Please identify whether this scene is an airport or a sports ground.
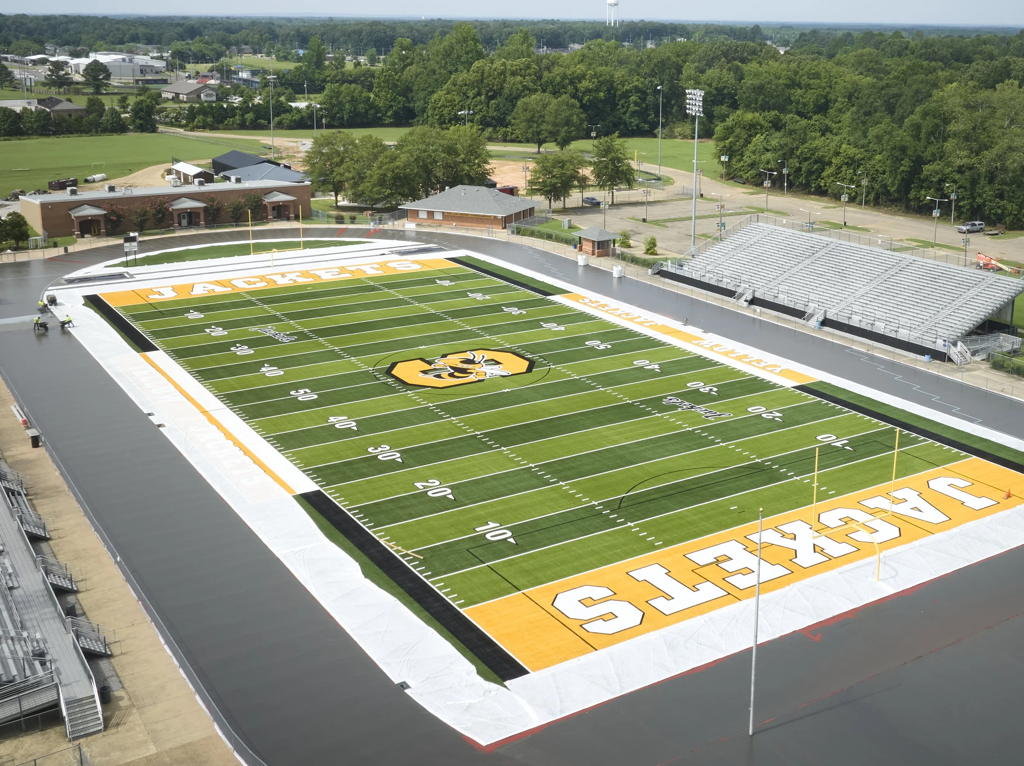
sports ground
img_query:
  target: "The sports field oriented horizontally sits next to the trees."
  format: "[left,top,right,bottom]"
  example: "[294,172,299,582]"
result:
[83,253,1024,684]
